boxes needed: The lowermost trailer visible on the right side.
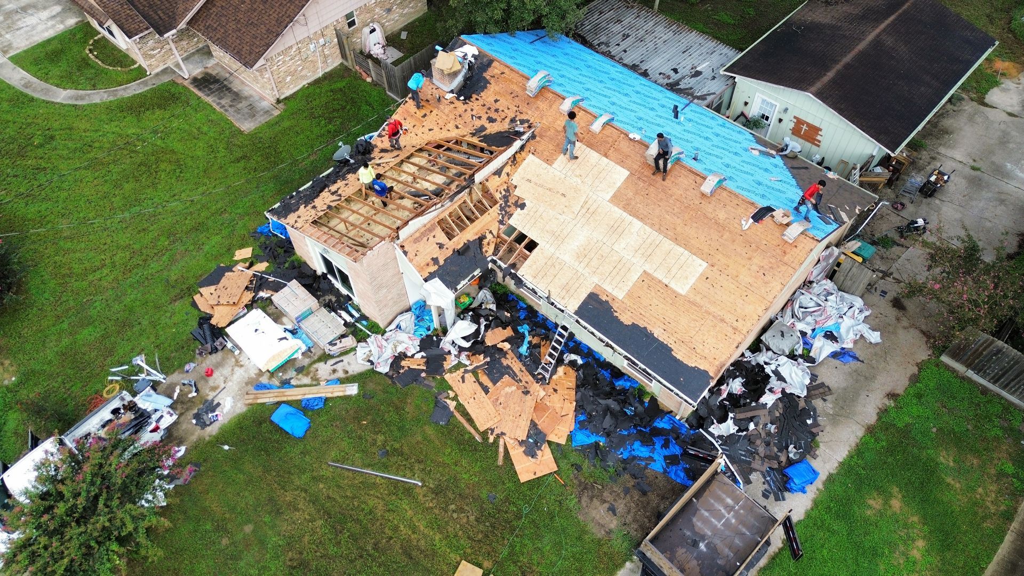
[615,445,801,576]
